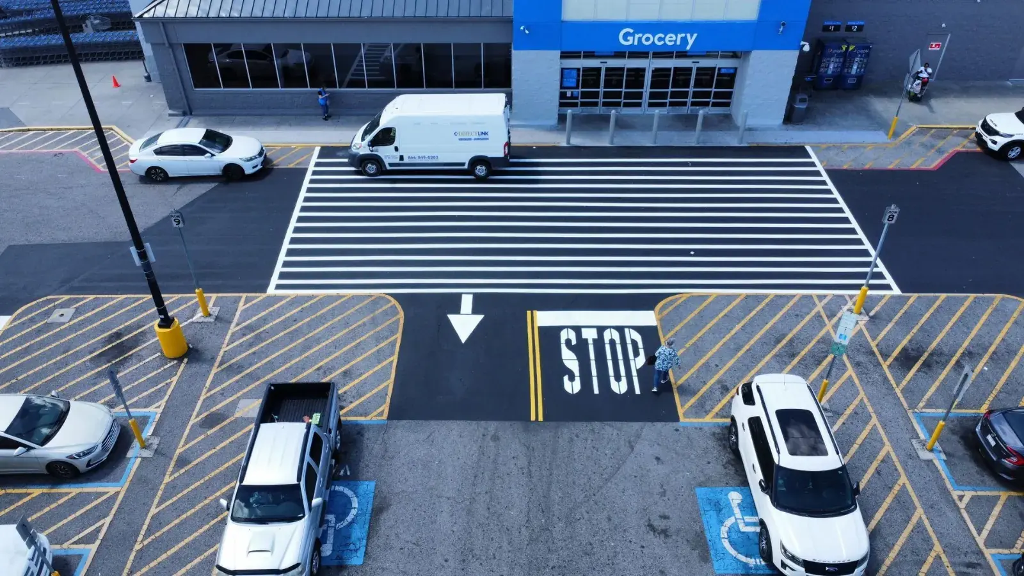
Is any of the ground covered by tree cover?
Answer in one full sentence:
No, there is no tree cover in the image.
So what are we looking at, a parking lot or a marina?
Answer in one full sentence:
The area seen from above is a parking lot.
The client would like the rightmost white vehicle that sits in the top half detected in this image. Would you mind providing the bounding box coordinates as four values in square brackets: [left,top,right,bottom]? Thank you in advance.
[973,106,1024,162]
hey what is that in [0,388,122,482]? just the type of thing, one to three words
car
